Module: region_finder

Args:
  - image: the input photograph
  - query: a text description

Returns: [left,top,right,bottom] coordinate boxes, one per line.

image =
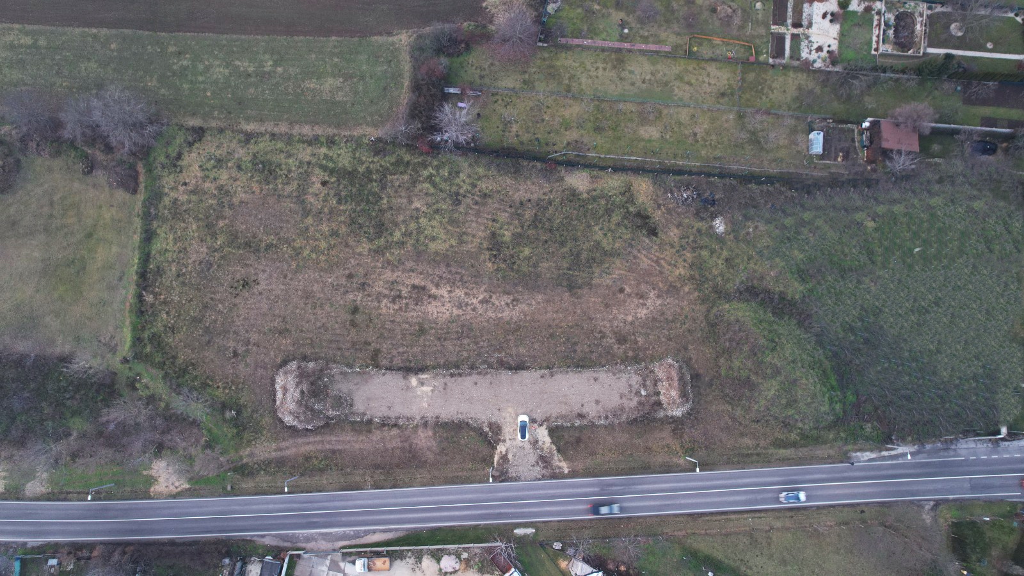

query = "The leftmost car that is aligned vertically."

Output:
[517,414,530,442]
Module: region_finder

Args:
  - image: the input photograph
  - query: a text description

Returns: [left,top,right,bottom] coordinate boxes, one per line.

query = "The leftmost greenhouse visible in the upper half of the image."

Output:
[810,129,826,154]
